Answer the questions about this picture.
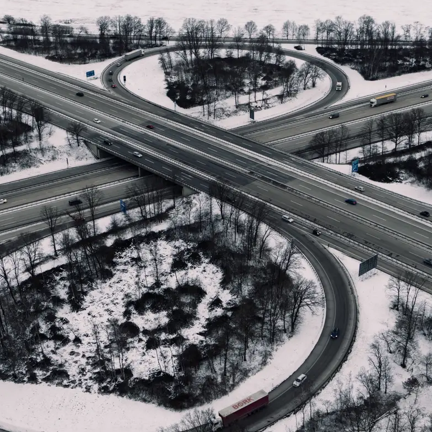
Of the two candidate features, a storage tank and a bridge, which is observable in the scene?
bridge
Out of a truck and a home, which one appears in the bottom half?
truck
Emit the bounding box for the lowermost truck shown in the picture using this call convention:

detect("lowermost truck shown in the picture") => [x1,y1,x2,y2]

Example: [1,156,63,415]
[213,391,269,430]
